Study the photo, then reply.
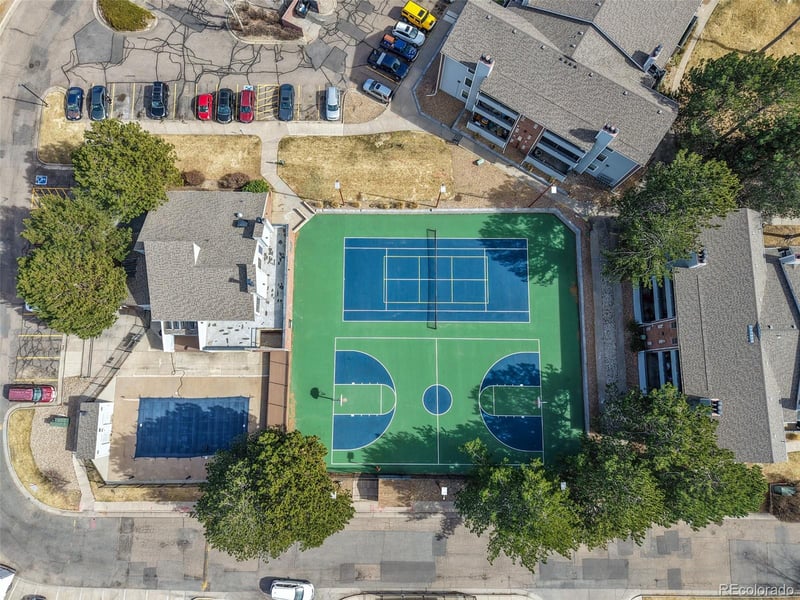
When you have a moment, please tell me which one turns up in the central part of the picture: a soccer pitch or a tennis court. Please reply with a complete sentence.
You can see a tennis court in the central part of the picture.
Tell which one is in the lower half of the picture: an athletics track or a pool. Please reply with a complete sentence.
It is a pool that can be seen in the lower half of the picture.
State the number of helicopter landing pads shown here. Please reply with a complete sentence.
There are no helicopter landing pads in the image.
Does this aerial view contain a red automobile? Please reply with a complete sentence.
Yes, there's a red automobile here.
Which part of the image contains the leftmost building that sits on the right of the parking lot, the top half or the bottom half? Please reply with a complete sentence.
The leftmost building that sits on the right of the parking lot sits in the top half of the picture.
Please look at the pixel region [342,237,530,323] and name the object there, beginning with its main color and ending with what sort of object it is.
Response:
blue tennis court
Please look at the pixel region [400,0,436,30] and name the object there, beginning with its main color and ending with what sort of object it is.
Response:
yellow car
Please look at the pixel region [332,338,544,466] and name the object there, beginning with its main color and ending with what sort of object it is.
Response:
blue basketball court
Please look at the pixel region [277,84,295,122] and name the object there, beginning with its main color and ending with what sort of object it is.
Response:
blue car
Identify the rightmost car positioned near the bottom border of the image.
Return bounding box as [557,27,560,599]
[270,578,315,600]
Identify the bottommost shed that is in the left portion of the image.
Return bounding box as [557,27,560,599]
[77,402,113,463]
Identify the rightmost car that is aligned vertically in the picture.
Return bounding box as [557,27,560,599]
[323,85,341,122]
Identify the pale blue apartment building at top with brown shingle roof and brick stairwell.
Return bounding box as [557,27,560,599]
[431,0,705,190]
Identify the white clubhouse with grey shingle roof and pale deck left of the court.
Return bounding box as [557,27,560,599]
[119,191,288,354]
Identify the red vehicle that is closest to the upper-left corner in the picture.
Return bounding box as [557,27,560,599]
[195,92,213,123]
